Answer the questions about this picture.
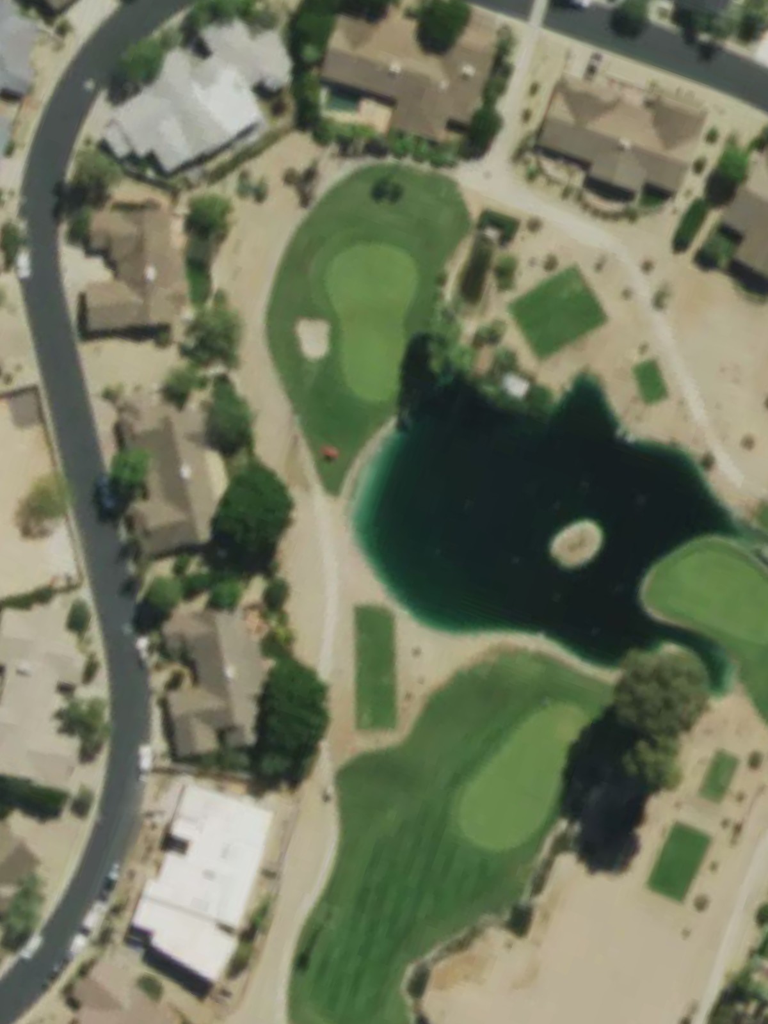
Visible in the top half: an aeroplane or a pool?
pool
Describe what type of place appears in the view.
residential area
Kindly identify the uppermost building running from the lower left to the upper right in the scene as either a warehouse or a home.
home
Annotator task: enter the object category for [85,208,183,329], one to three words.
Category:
house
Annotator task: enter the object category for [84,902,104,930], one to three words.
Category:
vehicle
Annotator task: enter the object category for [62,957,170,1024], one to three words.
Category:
house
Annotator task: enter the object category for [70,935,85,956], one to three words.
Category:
car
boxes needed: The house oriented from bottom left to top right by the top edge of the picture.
[106,16,293,170]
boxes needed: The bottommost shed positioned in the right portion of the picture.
[502,373,530,401]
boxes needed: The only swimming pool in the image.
[325,85,364,112]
